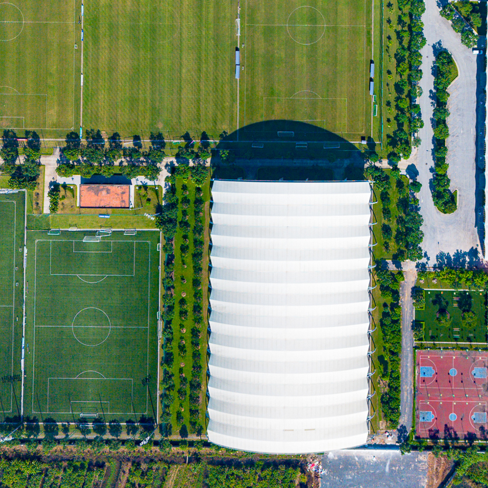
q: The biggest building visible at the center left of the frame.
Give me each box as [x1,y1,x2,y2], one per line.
[80,184,134,211]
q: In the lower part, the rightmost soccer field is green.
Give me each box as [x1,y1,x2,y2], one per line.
[23,231,159,423]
